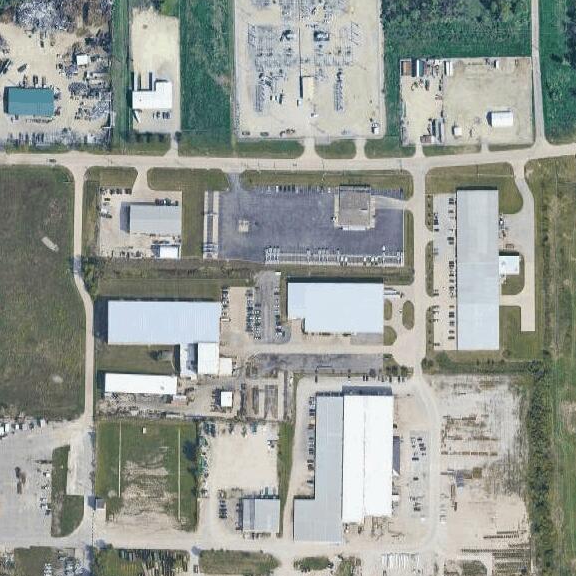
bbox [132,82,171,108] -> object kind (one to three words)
building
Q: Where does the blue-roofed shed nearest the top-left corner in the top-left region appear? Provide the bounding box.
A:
[7,87,54,115]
